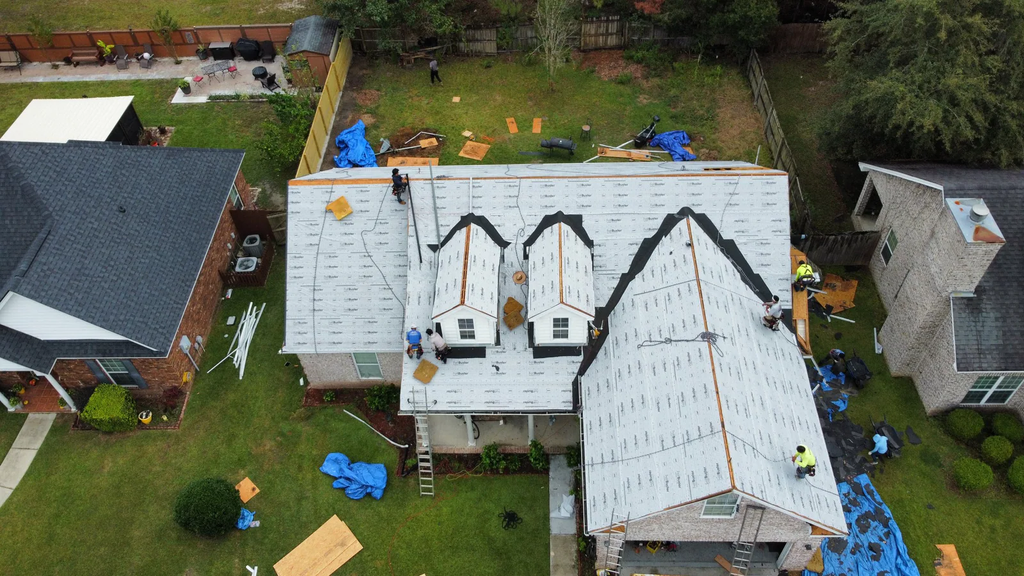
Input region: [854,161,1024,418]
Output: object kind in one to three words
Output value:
house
